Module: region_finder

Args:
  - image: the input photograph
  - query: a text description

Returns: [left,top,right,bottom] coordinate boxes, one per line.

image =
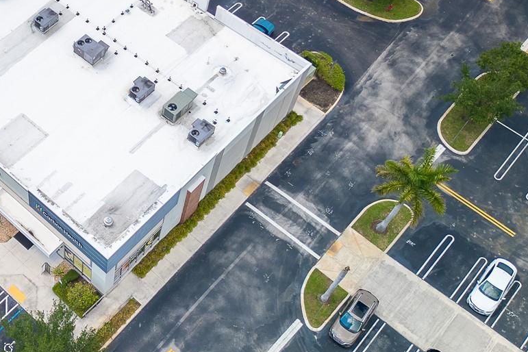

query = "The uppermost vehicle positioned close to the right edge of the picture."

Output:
[467,258,519,315]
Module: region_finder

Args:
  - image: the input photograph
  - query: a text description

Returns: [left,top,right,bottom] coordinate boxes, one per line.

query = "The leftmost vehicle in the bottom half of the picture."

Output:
[326,291,381,350]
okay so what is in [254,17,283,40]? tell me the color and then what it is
blue car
